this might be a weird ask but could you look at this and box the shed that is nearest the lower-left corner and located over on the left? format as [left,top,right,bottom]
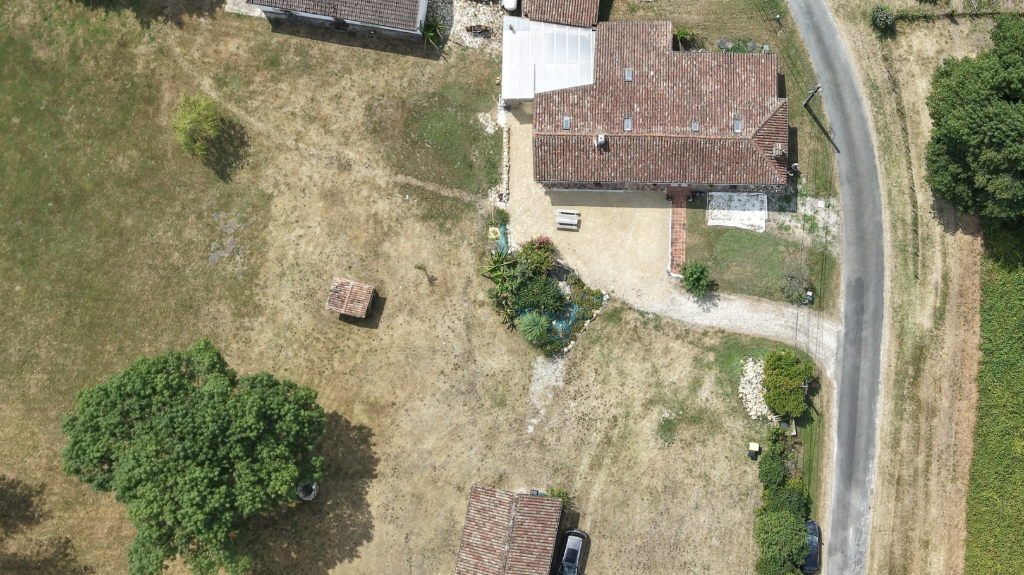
[326,277,376,319]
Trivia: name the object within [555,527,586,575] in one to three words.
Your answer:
car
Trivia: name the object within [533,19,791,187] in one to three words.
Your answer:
house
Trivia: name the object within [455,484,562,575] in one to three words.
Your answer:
barn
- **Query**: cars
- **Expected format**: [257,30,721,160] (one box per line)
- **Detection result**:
[555,527,586,575]
[796,519,823,575]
